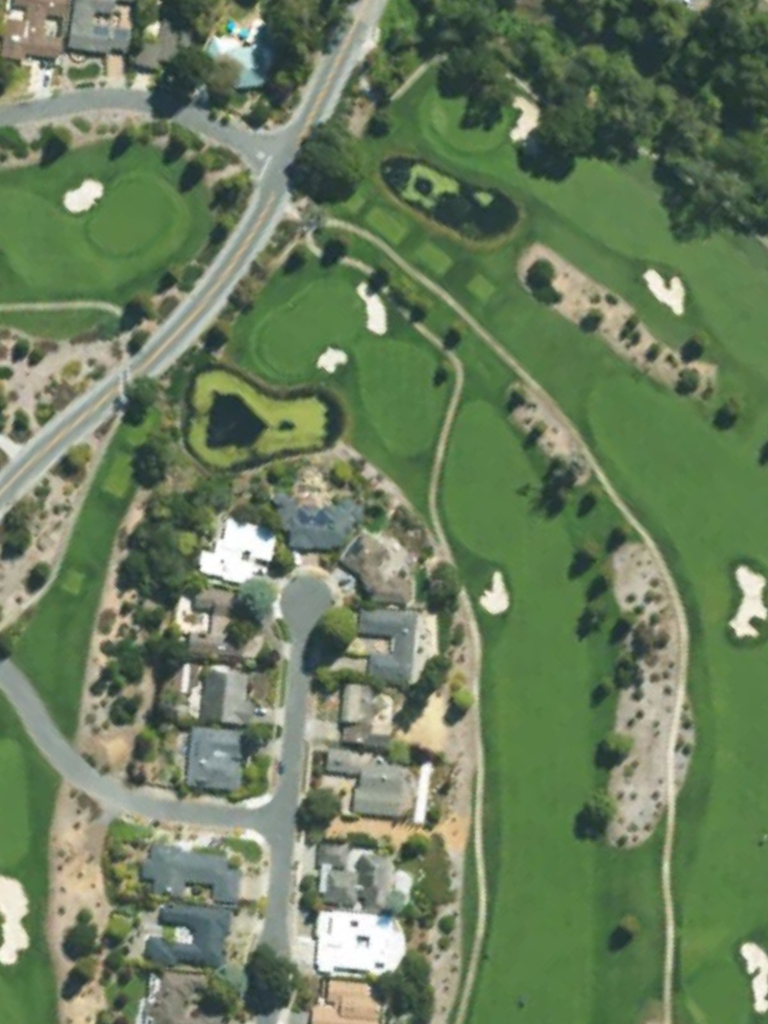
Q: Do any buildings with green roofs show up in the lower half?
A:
No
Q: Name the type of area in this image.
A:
golf course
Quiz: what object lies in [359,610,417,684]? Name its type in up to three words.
house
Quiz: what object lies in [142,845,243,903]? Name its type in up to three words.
house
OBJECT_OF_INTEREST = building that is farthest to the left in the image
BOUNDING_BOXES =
[1,0,69,61]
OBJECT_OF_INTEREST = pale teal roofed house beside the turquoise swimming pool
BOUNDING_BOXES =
[207,33,267,88]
